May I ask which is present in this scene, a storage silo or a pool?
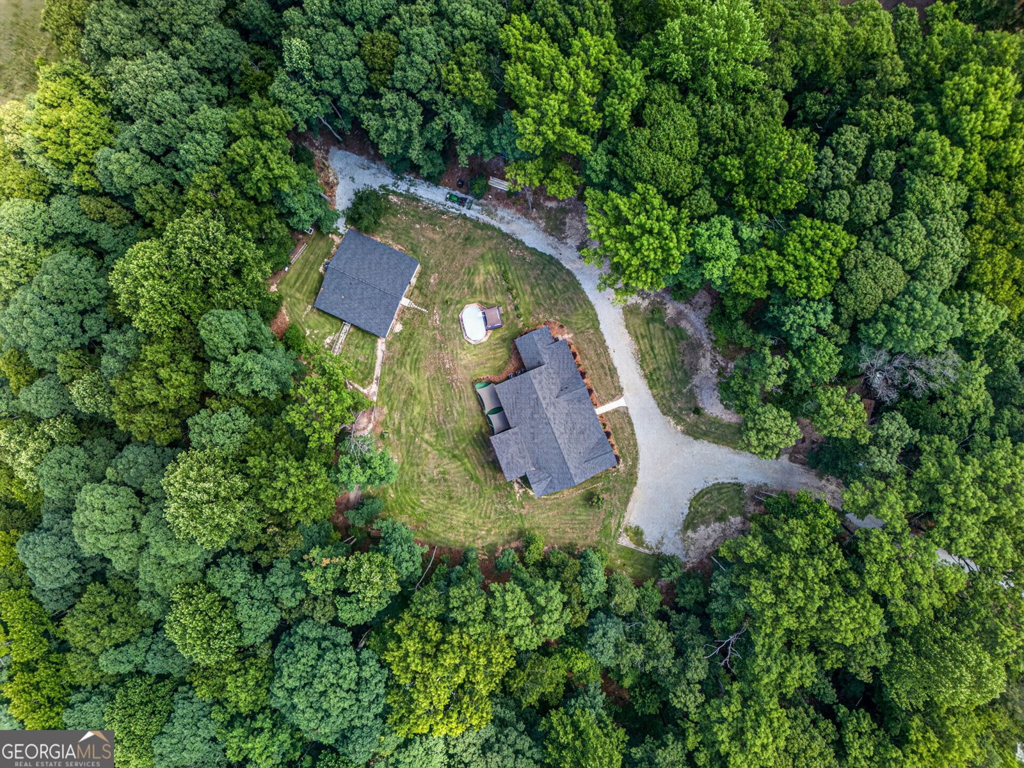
pool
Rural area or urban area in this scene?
rural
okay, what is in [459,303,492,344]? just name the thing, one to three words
swimming pool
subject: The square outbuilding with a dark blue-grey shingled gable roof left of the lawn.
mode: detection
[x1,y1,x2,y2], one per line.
[313,229,419,338]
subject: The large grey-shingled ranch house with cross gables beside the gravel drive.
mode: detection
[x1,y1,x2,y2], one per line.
[489,325,619,499]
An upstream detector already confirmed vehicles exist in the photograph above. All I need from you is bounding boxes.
[449,190,474,209]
